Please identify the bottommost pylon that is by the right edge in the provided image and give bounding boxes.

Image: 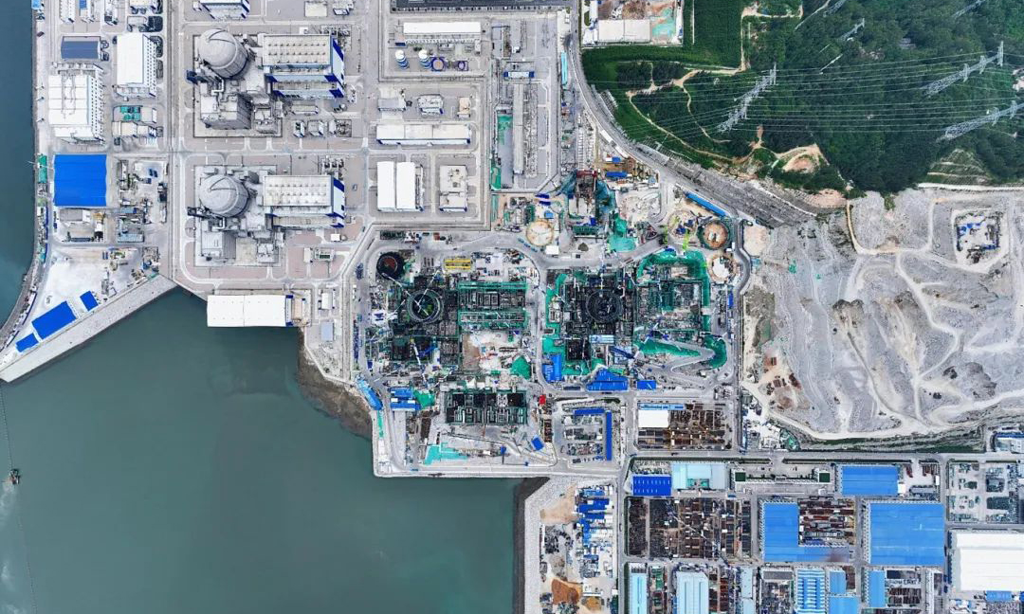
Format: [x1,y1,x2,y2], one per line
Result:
[939,100,1009,142]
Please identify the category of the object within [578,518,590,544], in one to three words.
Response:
shed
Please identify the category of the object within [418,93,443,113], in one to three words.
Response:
building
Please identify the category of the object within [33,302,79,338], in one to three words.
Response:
shed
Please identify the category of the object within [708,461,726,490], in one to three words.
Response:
building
